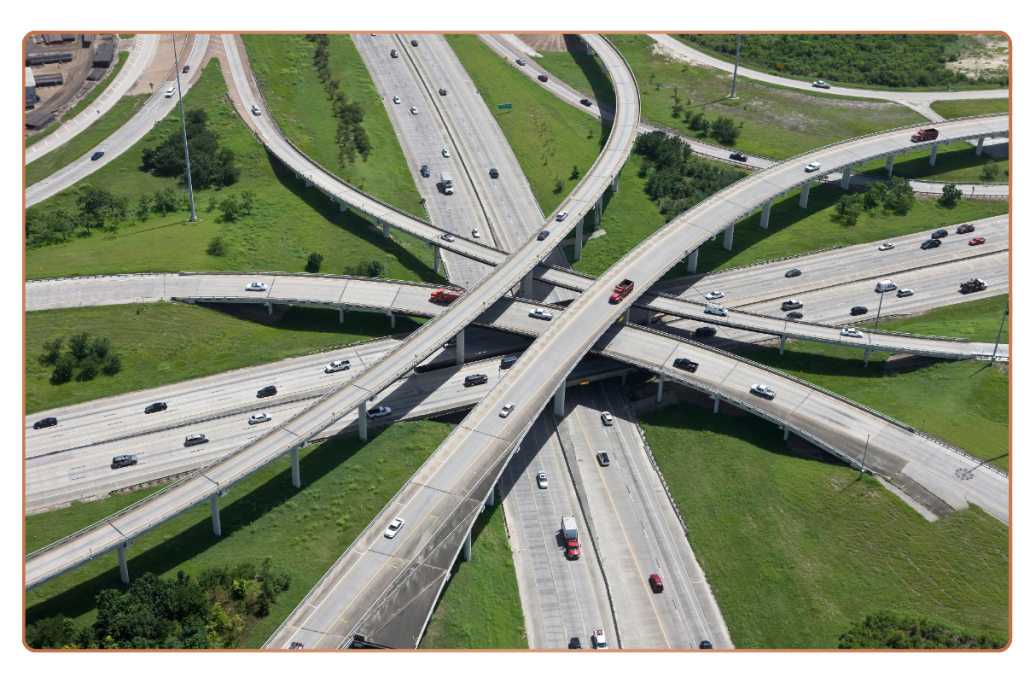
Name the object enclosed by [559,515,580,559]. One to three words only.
truck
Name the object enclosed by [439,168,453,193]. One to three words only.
vehicle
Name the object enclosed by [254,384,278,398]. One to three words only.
car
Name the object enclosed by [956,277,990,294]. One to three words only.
vehicle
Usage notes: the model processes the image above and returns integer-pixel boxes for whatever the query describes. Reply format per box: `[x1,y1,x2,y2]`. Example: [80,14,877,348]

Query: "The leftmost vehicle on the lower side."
[33,416,57,430]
